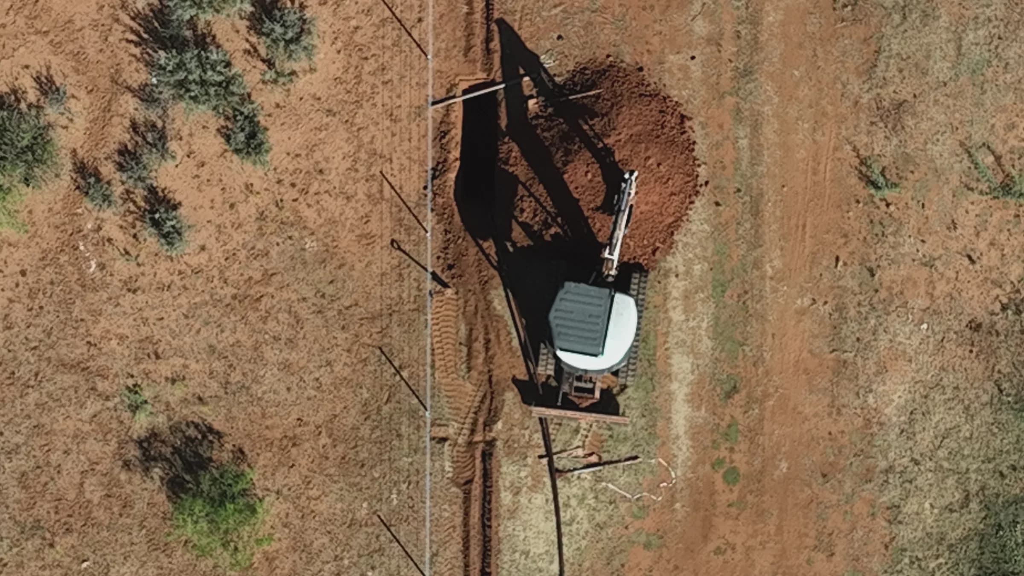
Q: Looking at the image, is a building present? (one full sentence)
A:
No, the frame has no building in it.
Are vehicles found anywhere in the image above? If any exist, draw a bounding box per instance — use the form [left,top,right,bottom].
[530,167,650,423]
